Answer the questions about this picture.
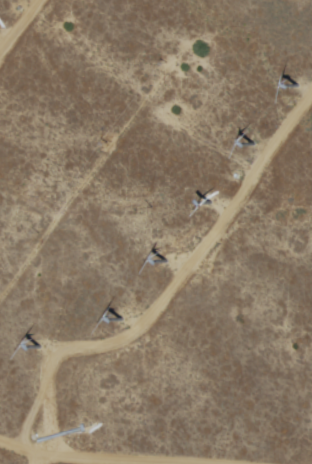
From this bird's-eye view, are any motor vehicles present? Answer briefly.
No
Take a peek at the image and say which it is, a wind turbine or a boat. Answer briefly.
wind turbine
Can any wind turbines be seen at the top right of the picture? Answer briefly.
Yes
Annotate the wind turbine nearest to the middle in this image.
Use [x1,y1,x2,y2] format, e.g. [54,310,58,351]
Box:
[138,252,168,276]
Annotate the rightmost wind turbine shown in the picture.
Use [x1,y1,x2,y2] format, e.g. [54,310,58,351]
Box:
[272,73,300,101]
